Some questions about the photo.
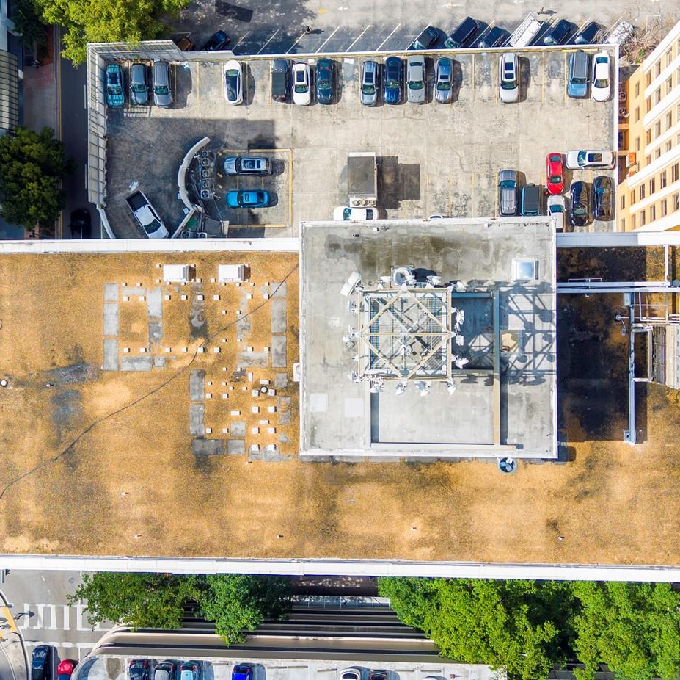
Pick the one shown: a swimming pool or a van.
van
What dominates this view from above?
buildings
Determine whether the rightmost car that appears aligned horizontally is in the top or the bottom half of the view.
top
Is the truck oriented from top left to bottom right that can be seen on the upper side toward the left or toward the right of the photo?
left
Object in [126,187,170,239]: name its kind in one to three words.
truck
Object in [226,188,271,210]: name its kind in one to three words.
car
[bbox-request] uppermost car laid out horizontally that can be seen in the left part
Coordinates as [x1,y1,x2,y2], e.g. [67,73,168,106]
[226,155,272,178]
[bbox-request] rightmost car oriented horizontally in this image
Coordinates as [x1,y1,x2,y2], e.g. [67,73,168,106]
[565,148,613,171]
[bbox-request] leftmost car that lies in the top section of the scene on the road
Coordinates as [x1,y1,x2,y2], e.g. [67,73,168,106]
[71,205,91,239]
